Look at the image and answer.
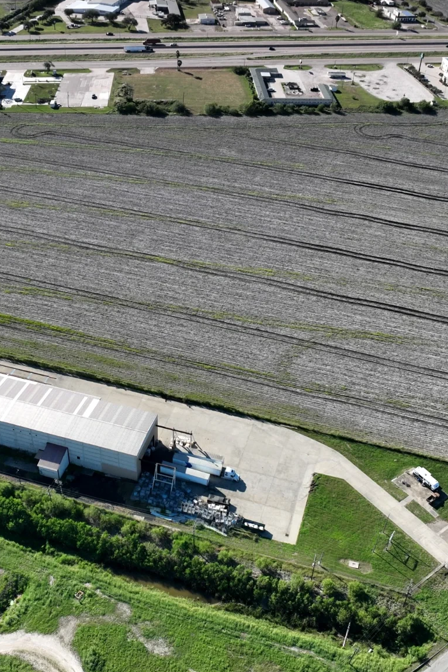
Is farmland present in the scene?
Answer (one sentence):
Yes, there's farmland in this view.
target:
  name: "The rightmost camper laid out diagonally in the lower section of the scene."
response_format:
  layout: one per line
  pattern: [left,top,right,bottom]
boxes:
[413,465,439,489]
